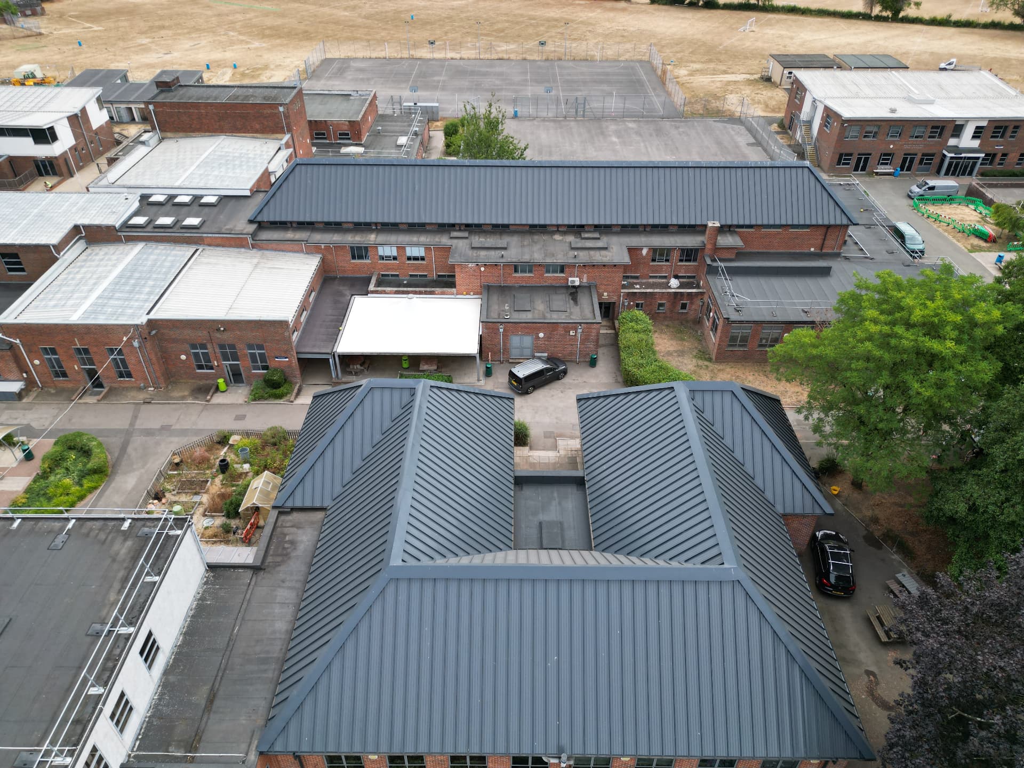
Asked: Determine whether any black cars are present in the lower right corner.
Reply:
Yes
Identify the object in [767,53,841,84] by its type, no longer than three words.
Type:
building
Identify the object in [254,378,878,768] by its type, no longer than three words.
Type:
building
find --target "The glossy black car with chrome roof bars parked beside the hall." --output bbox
[811,533,855,605]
